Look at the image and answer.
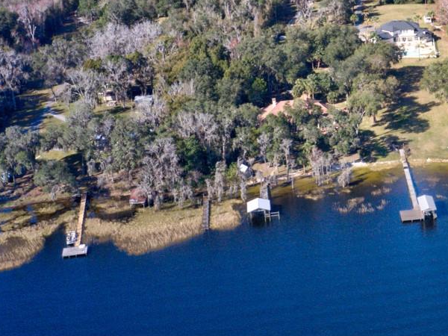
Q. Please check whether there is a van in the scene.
No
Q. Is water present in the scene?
Yes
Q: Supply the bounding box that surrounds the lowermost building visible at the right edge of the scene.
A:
[416,191,438,224]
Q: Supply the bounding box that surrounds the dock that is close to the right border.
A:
[398,147,426,226]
